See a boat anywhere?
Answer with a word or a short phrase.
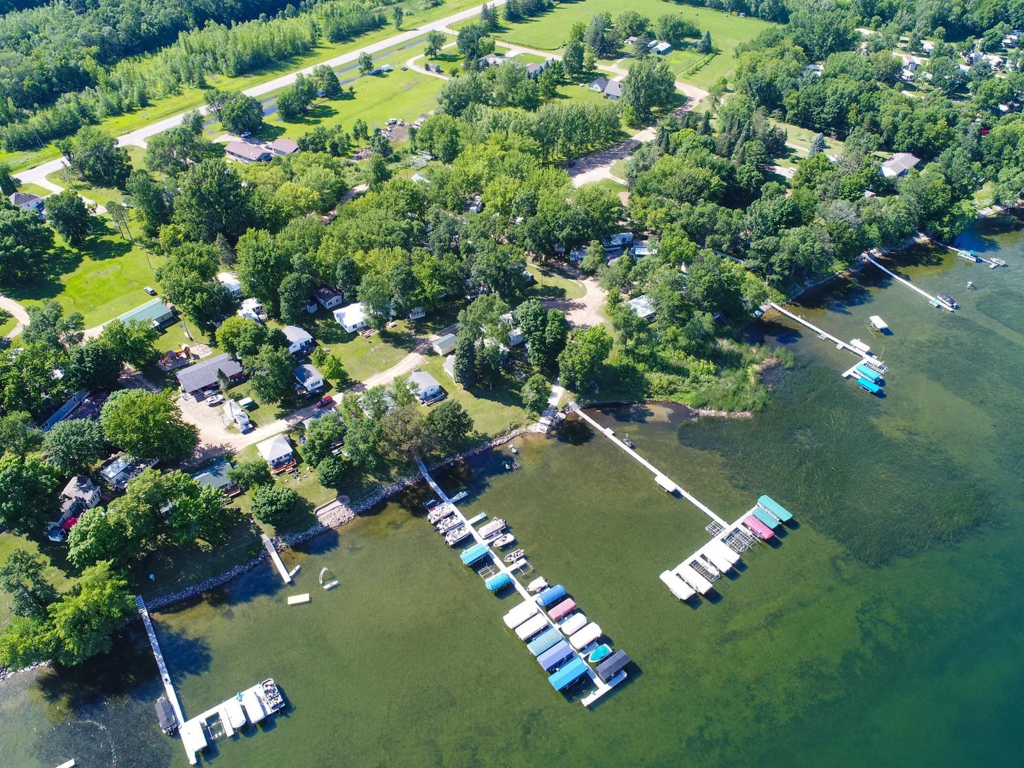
Yes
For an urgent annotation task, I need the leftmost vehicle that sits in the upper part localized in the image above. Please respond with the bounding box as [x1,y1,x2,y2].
[142,284,158,297]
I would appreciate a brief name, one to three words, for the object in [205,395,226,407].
vehicle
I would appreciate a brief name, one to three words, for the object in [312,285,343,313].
house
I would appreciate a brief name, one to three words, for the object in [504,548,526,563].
boat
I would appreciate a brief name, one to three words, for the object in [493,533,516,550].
boat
